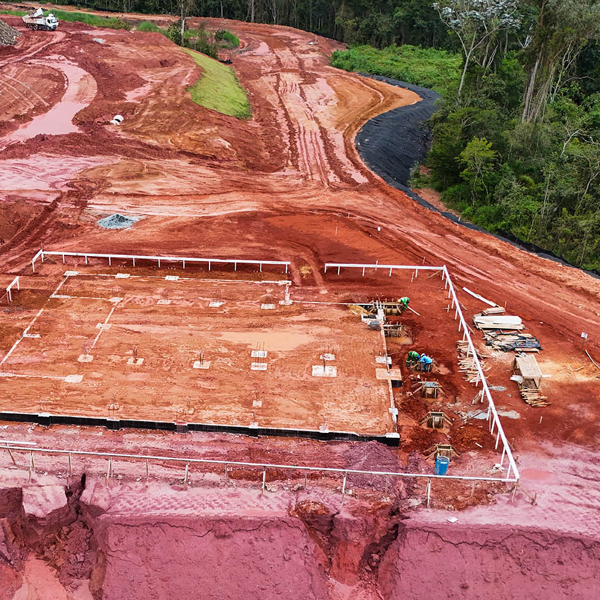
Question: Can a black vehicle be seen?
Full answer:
No, there is no black vehicle in the image.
